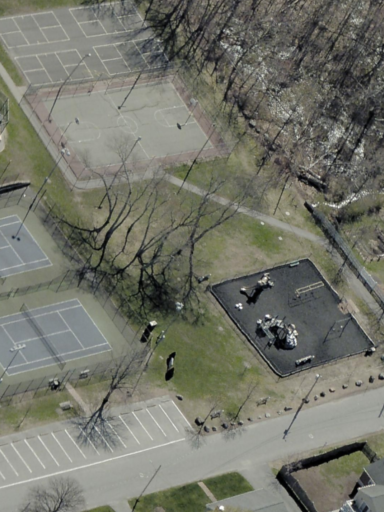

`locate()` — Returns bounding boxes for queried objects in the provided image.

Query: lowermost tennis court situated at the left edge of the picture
[0,273,149,394]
